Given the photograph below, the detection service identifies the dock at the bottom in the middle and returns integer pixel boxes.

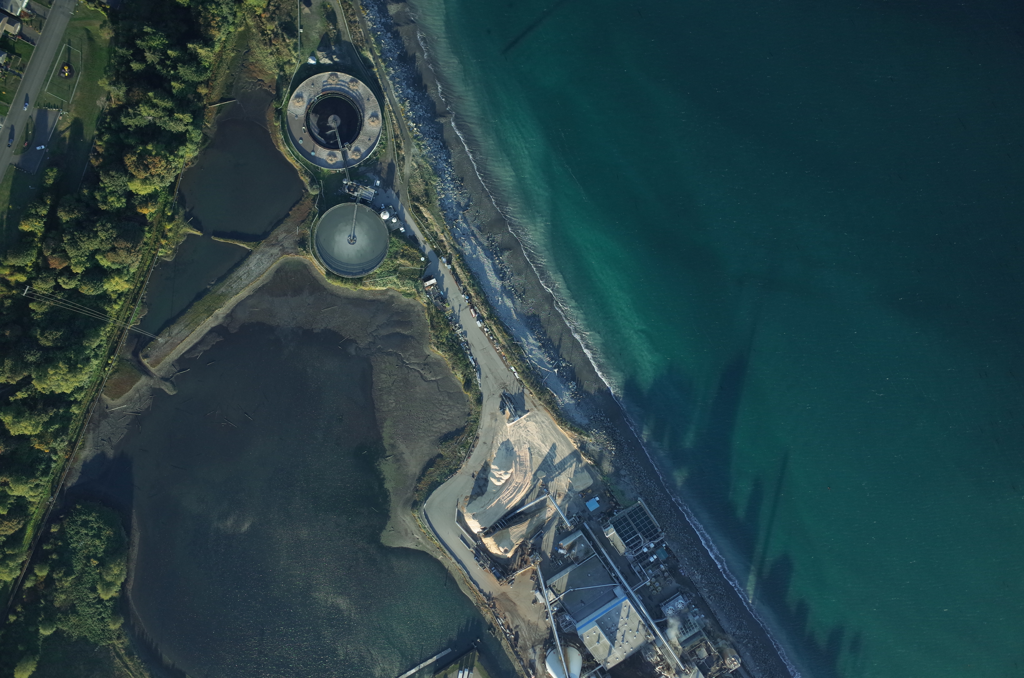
[391,645,452,678]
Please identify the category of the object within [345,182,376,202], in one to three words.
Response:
building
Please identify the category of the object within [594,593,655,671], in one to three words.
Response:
building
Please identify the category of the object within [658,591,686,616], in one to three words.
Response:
cooling tower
